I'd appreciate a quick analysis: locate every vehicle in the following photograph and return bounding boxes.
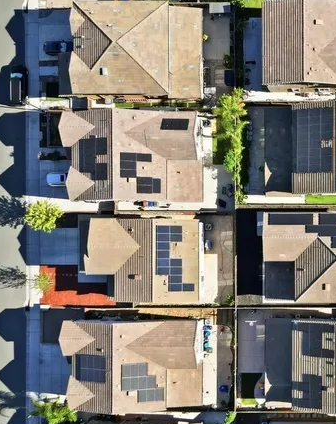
[9,67,28,108]
[42,38,73,57]
[44,171,69,188]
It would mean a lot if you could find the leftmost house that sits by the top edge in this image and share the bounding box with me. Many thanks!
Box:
[58,1,203,100]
